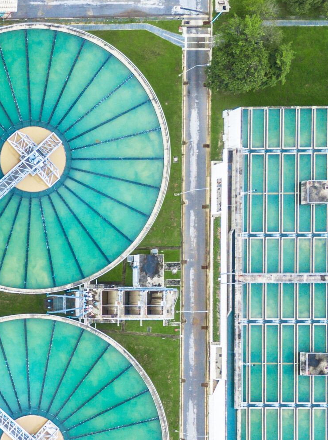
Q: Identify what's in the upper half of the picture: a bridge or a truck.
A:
bridge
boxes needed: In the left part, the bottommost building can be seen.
[73,281,181,327]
